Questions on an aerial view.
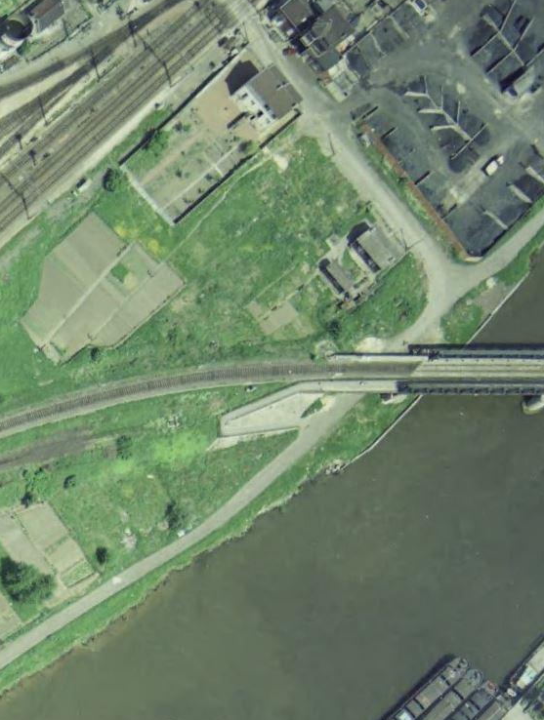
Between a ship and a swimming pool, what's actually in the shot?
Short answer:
ship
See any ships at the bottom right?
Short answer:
Yes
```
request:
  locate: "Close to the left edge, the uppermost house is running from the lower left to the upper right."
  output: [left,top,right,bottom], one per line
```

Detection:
[23,0,68,37]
